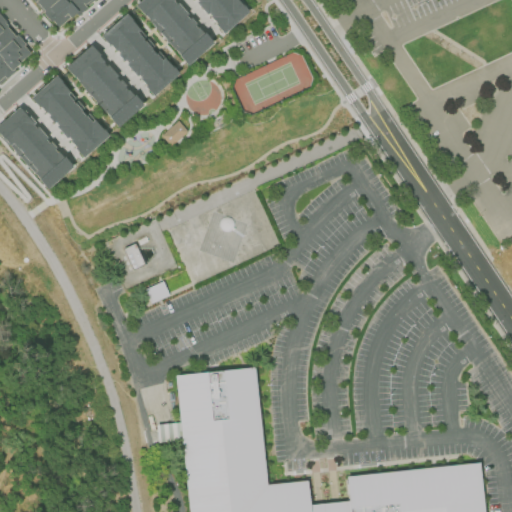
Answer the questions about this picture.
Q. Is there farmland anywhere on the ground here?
No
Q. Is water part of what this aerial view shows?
No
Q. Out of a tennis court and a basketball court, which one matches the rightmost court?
tennis court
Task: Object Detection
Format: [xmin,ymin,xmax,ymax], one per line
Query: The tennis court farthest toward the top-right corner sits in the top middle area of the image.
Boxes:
[235,53,313,112]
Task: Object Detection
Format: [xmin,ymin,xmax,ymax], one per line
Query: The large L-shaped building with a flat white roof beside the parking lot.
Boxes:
[177,368,487,512]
